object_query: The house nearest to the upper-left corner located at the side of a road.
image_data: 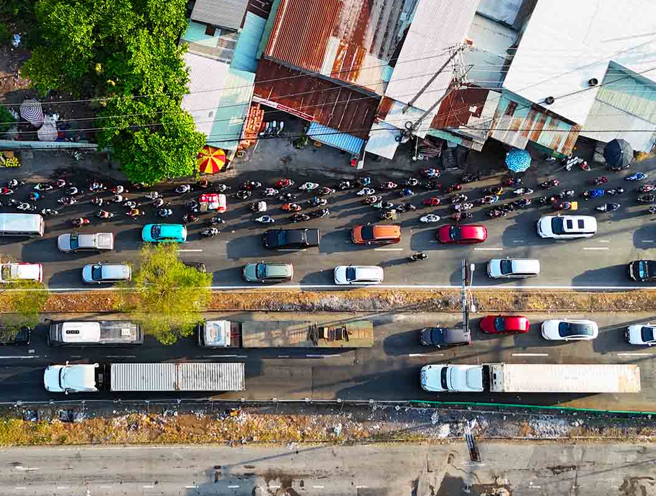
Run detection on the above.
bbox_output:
[180,0,268,162]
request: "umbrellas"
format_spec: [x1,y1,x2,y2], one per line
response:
[198,148,226,173]
[20,100,43,123]
[601,143,633,169]
[504,149,530,172]
[36,121,57,141]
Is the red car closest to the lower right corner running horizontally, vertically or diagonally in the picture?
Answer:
horizontally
